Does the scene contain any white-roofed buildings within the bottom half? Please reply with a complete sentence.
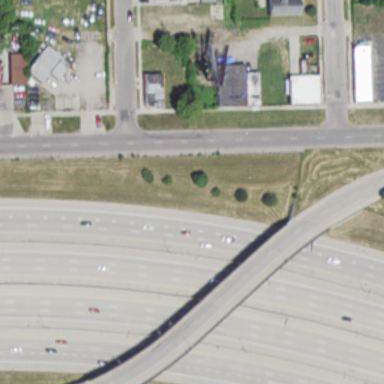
No, I see no white-roofed building within the bottom half.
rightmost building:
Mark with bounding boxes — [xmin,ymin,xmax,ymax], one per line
[354,45,372,102]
